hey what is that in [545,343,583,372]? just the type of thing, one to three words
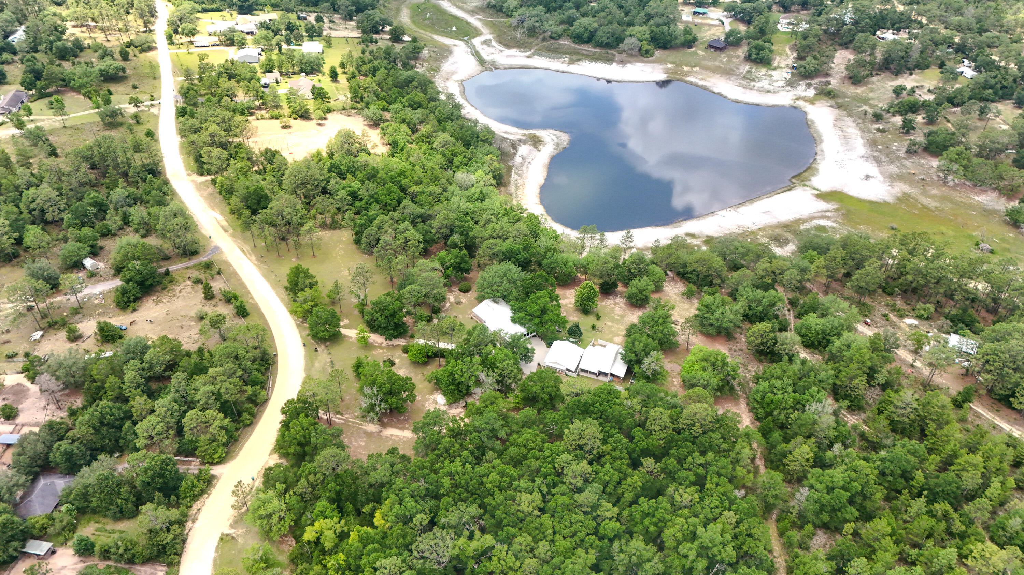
building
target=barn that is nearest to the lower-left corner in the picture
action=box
[23,538,55,559]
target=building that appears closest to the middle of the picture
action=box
[472,302,527,350]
